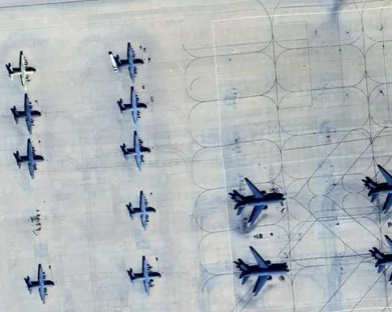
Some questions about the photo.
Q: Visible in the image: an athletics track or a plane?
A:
plane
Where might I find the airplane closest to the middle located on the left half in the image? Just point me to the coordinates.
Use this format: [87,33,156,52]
[125,137,150,170]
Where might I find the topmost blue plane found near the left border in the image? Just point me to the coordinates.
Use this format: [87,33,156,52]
[15,101,40,134]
